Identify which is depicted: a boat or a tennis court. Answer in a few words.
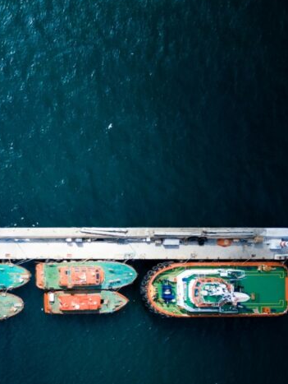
boat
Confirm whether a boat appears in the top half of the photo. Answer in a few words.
No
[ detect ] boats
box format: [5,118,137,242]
[140,257,288,320]
[43,290,130,314]
[0,294,24,320]
[36,261,139,291]
[0,263,32,292]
